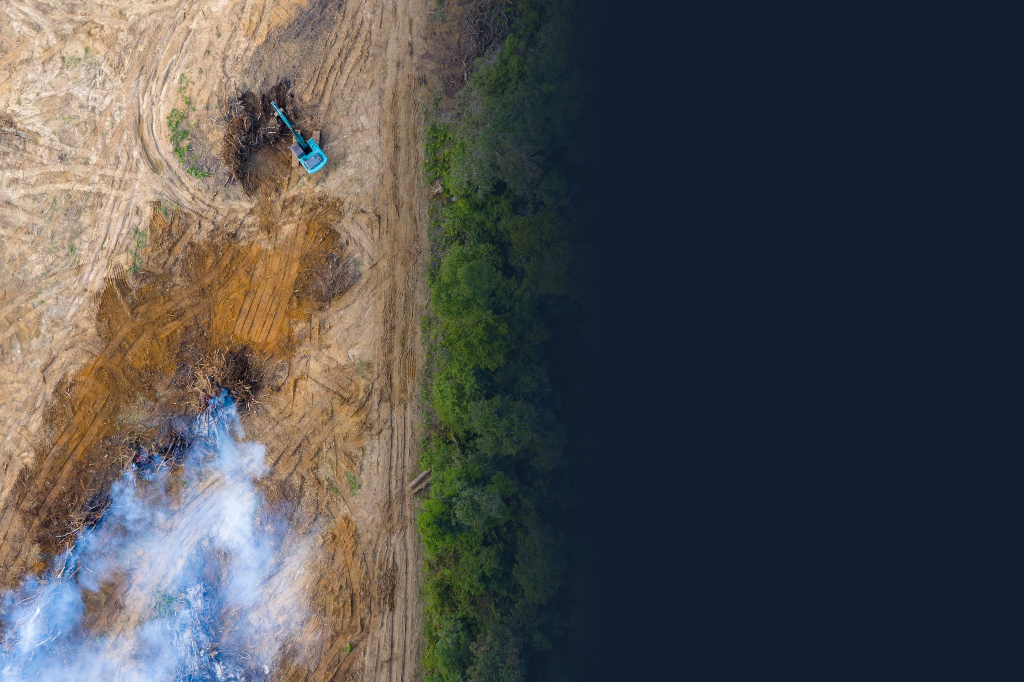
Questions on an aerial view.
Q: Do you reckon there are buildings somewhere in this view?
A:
No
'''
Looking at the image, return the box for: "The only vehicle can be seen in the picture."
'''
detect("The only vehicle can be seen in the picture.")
[265,98,330,175]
